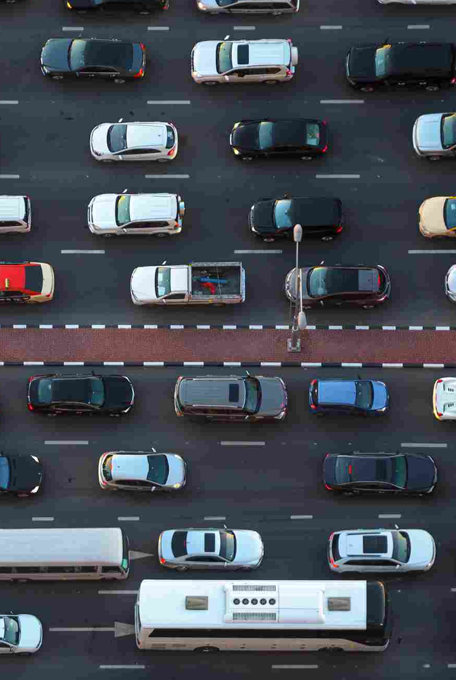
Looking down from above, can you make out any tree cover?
No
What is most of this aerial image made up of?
paved ground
